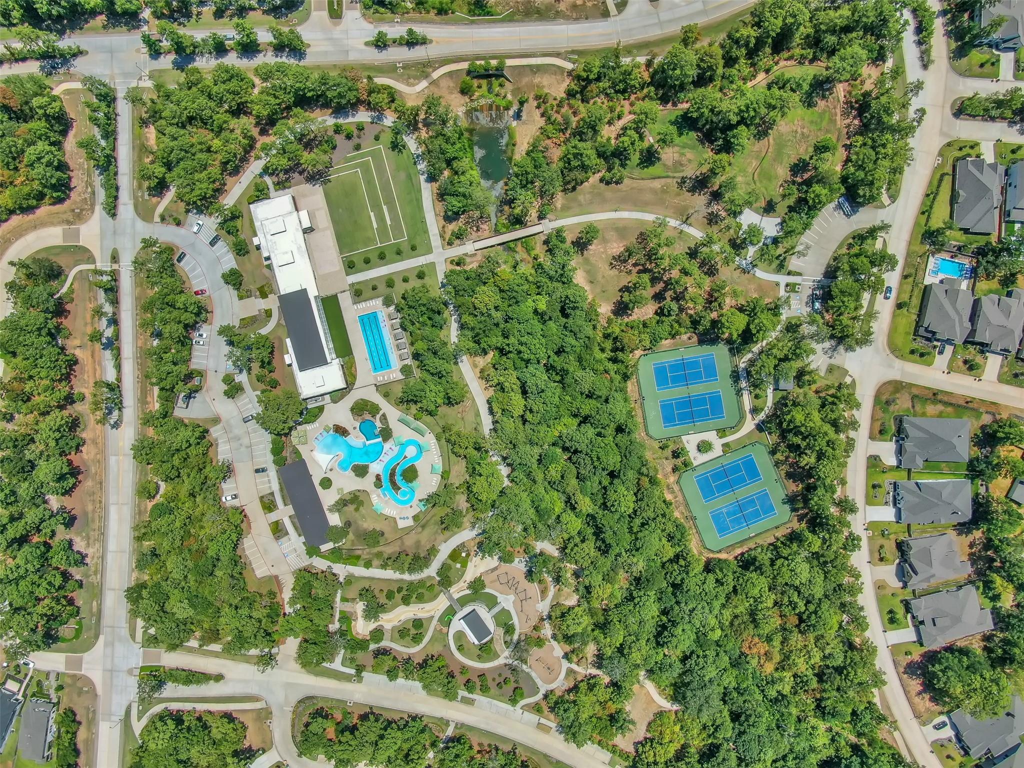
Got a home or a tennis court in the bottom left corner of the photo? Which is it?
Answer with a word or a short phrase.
home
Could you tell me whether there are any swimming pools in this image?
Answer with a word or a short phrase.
Yes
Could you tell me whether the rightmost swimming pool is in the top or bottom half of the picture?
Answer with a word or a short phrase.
top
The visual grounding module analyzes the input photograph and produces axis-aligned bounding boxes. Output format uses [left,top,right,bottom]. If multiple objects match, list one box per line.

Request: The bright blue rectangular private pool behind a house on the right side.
[928,257,971,278]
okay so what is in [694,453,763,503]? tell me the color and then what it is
blue tennis court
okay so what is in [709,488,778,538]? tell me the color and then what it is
blue tennis court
